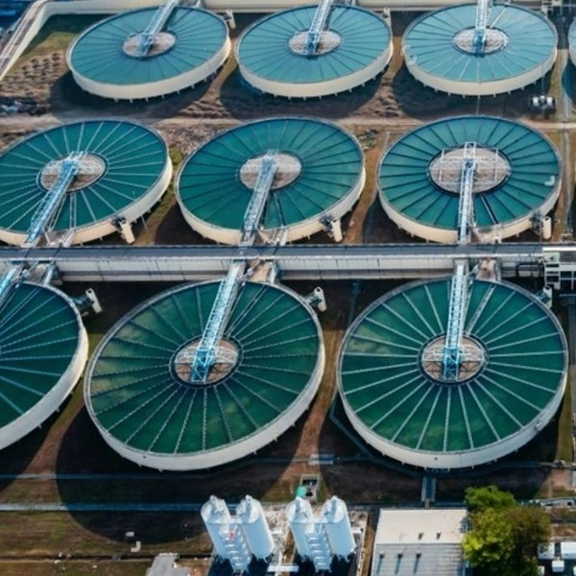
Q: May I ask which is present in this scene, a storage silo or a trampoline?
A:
storage silo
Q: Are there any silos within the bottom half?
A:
Yes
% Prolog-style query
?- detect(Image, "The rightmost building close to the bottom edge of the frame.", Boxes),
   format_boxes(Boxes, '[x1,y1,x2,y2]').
[371,509,466,576]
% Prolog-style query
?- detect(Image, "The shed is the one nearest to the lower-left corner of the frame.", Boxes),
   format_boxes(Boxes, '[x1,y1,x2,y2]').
[145,554,191,576]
